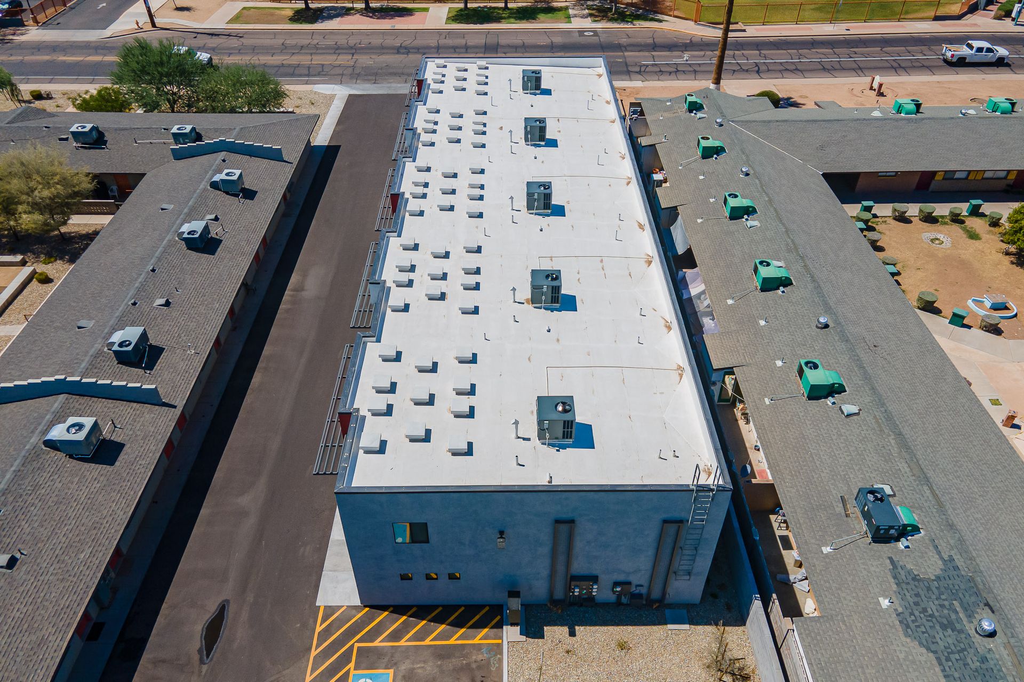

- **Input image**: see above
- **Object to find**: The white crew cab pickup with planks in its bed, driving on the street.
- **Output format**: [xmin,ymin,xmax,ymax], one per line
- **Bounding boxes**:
[930,33,1013,62]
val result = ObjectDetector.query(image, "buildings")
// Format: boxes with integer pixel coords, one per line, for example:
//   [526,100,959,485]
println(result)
[0,105,320,682]
[334,55,732,609]
[638,83,1024,682]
